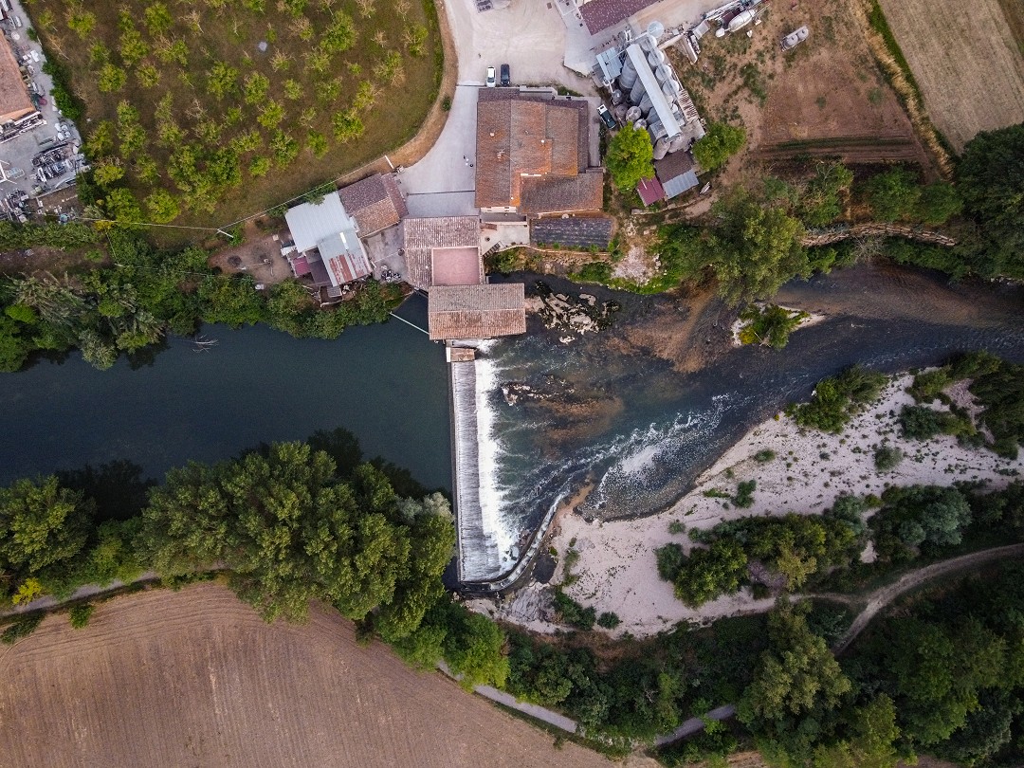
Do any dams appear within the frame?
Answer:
Yes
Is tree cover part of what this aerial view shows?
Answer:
Yes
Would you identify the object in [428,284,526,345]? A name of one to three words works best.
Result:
house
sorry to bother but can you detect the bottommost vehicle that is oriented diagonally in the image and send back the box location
[597,101,619,128]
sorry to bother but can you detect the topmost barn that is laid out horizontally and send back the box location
[574,0,669,39]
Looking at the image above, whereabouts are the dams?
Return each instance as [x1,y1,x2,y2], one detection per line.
[449,361,500,579]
